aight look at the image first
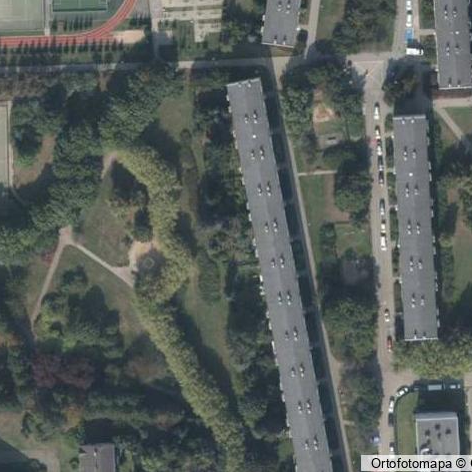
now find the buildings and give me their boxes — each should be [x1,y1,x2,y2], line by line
[391,116,440,340]
[225,78,331,472]
[430,0,472,90]
[259,0,301,49]
[412,413,459,472]
[77,444,116,472]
